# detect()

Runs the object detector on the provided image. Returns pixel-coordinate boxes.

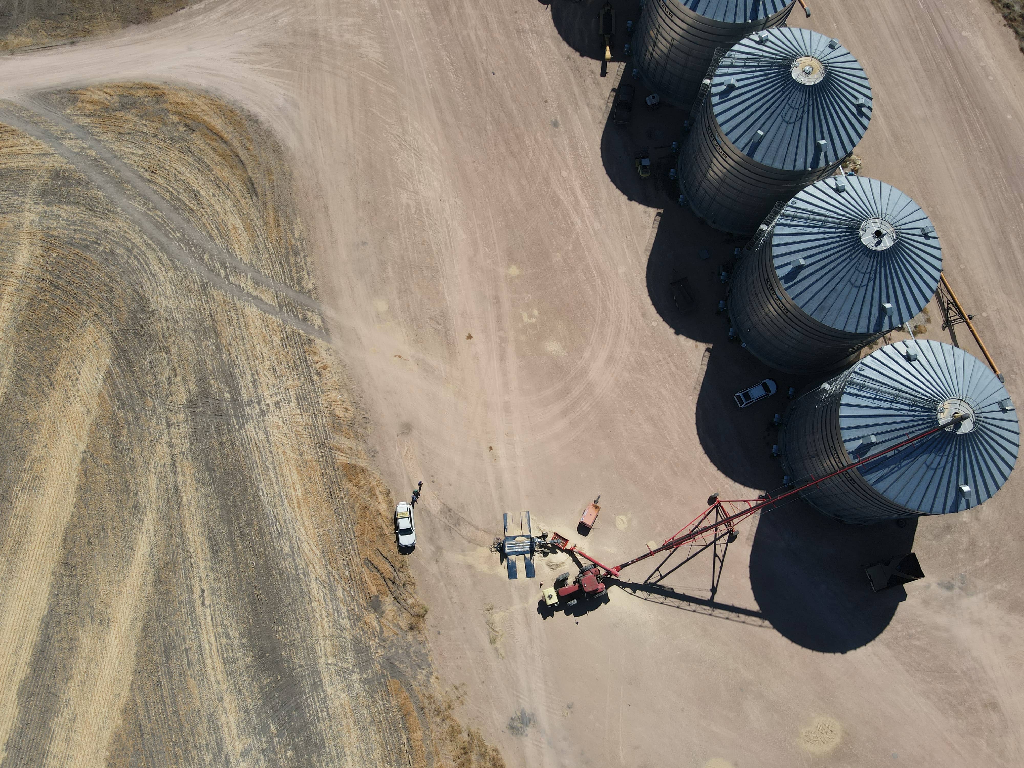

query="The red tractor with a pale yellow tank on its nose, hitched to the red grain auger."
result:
[542,561,609,609]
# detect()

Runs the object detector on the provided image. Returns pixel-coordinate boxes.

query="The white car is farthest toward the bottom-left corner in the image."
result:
[395,499,416,548]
